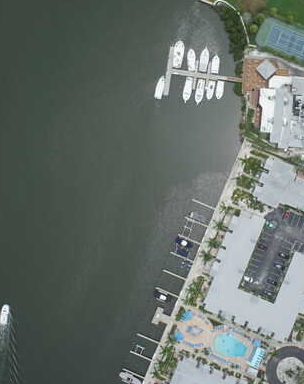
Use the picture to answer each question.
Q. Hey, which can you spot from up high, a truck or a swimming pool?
swimming pool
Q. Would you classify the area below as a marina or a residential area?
marina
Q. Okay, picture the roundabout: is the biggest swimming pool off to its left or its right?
left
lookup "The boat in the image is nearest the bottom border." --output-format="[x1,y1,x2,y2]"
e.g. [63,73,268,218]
[118,370,141,384]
